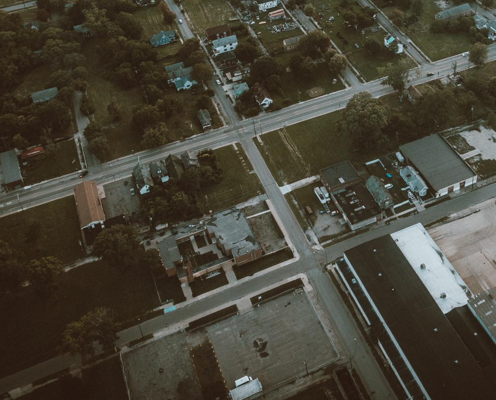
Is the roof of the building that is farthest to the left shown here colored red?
No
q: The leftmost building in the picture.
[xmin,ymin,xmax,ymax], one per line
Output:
[0,149,24,191]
